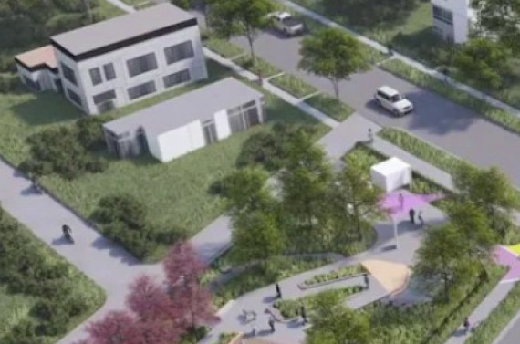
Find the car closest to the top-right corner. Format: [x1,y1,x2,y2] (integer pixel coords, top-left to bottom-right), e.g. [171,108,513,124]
[373,83,414,113]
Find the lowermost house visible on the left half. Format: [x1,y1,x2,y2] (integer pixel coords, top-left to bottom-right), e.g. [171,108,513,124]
[104,77,268,163]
